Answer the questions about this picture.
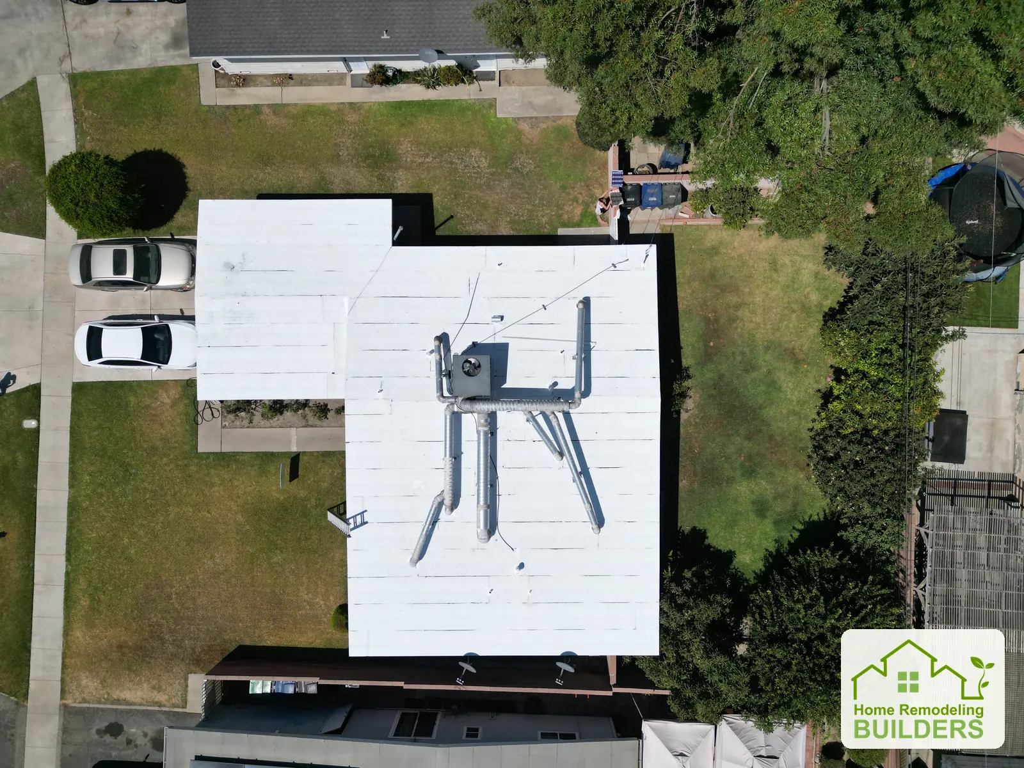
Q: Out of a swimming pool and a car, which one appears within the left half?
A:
car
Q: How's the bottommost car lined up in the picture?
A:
from side to side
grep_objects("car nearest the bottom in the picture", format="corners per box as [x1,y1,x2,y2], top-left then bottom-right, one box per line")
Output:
[74,316,197,376]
